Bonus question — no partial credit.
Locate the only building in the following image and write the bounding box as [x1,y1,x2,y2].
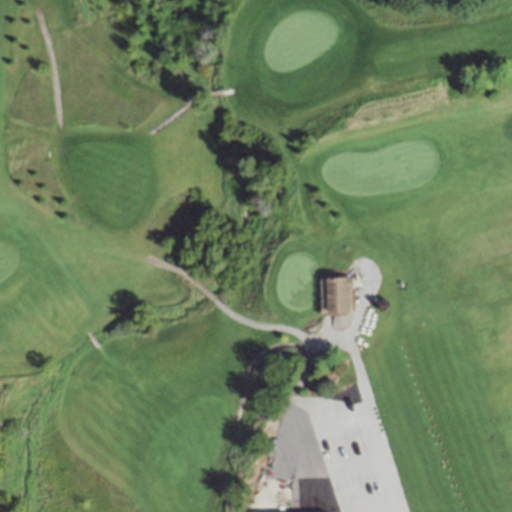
[320,278,354,328]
